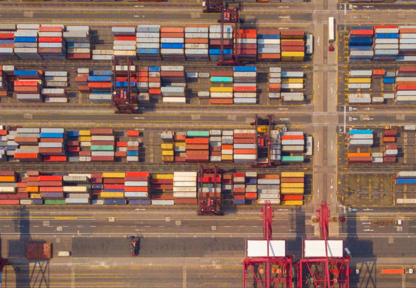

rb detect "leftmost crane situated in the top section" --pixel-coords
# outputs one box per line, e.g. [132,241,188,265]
[110,57,141,113]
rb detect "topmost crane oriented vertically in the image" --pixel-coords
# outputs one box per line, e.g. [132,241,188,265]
[218,9,244,66]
